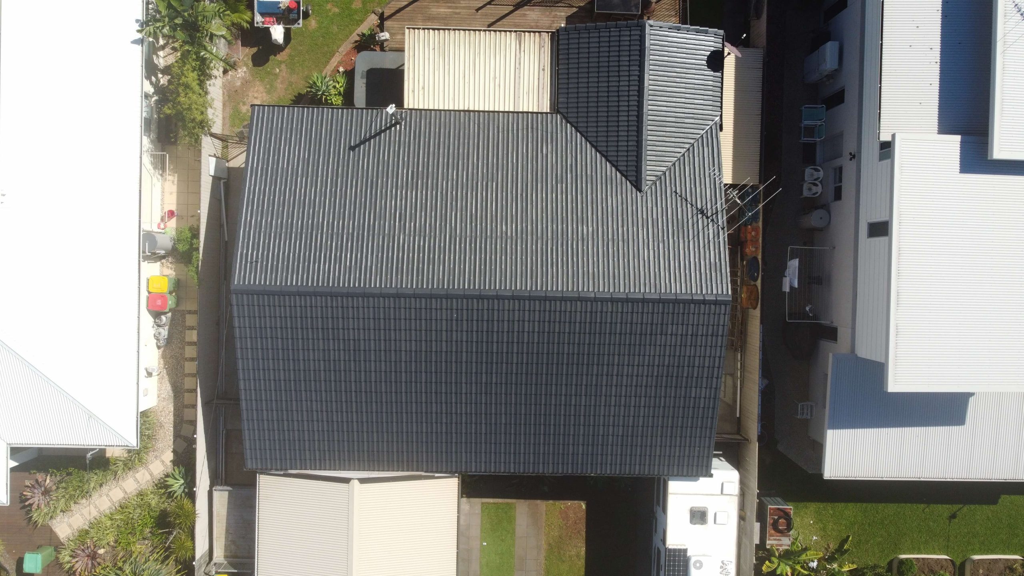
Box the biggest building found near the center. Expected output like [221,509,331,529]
[227,19,733,478]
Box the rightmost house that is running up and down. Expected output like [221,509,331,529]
[808,0,1024,483]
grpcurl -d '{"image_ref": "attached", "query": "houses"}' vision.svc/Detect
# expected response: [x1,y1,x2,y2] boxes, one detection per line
[808,0,1024,483]
[0,0,160,508]
[227,19,733,478]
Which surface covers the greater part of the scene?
buildings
